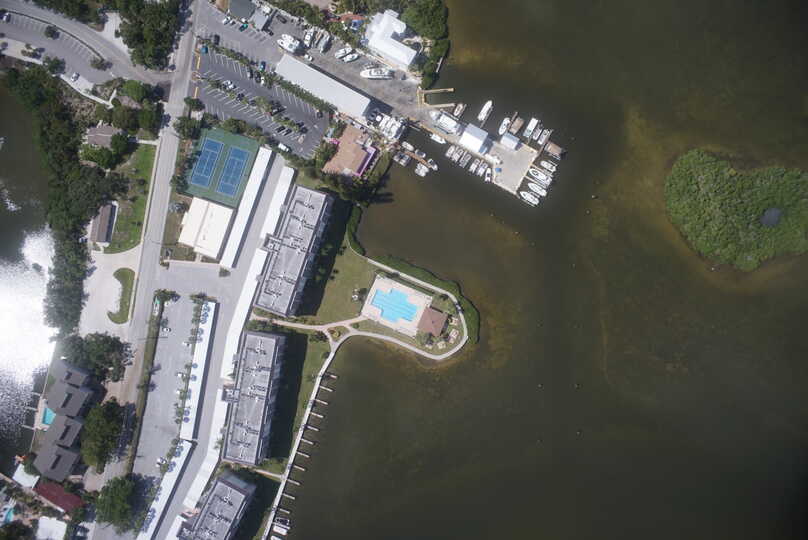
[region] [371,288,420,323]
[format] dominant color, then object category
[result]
blue swimming pool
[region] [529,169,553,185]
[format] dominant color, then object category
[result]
white boat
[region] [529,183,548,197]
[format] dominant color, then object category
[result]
white boat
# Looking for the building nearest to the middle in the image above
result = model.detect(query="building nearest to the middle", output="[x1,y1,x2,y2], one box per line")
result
[418,308,447,336]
